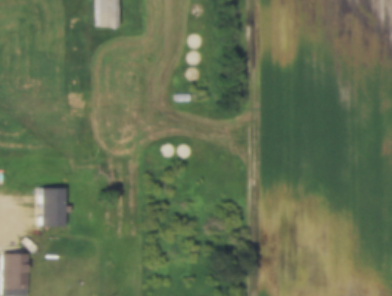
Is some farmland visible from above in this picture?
Yes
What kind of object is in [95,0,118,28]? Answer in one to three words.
barn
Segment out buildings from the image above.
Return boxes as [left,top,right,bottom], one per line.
[0,253,32,296]
[38,187,68,228]
[95,0,118,28]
